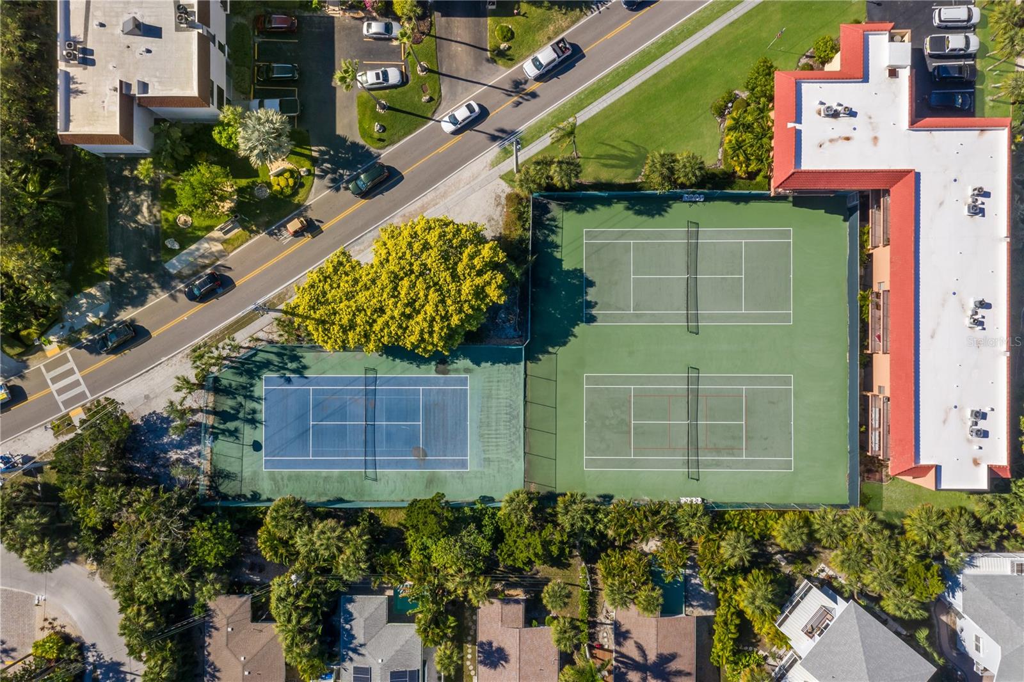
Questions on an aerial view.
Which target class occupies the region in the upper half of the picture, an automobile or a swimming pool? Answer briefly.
automobile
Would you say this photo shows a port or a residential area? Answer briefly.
residential area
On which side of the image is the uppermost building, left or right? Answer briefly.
left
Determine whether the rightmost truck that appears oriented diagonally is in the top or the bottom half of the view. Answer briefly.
top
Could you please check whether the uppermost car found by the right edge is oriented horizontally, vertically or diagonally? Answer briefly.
horizontally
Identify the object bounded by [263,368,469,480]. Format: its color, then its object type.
blue tennis court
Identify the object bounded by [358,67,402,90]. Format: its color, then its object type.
white car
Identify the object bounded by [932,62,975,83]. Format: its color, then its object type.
black car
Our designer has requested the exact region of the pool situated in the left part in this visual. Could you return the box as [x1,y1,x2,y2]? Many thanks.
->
[392,585,422,616]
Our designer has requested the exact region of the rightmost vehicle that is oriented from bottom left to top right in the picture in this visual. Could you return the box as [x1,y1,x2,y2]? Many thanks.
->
[523,36,573,80]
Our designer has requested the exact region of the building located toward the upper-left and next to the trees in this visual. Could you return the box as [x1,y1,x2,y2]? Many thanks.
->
[58,0,229,150]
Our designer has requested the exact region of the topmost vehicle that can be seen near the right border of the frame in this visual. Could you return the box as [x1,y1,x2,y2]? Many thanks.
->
[932,5,979,28]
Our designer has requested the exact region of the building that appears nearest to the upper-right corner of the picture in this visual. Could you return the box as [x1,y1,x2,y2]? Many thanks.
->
[761,24,1010,489]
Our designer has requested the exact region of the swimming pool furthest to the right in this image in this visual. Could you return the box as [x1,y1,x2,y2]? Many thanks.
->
[649,553,687,613]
